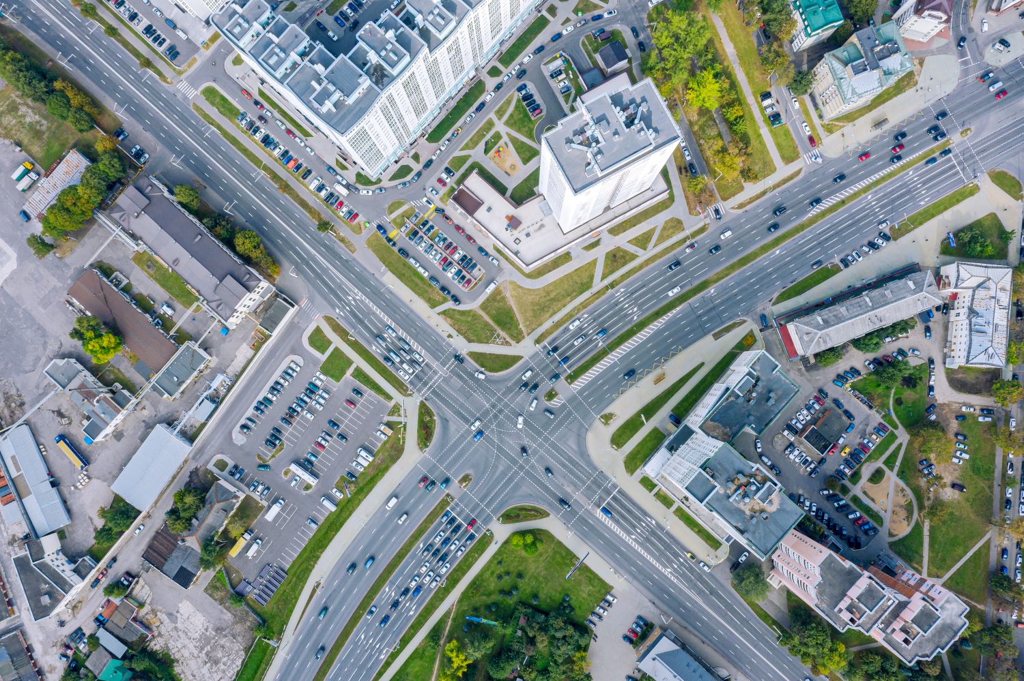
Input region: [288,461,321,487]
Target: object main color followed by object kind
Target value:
white bus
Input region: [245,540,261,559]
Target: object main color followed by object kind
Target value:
white vehicle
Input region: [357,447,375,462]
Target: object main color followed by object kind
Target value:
white vehicle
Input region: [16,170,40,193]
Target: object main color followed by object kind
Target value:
white truck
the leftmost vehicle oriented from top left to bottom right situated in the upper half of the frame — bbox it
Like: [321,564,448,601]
[17,209,30,223]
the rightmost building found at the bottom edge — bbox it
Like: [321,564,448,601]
[764,529,971,667]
